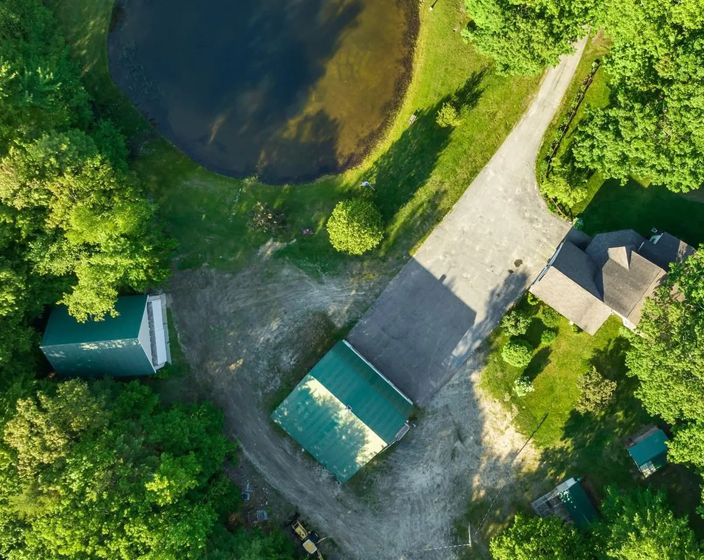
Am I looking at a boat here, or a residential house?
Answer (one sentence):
There is a residential house in the scene.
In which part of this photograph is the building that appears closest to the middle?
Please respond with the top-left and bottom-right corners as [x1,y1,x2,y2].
[272,339,415,481]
